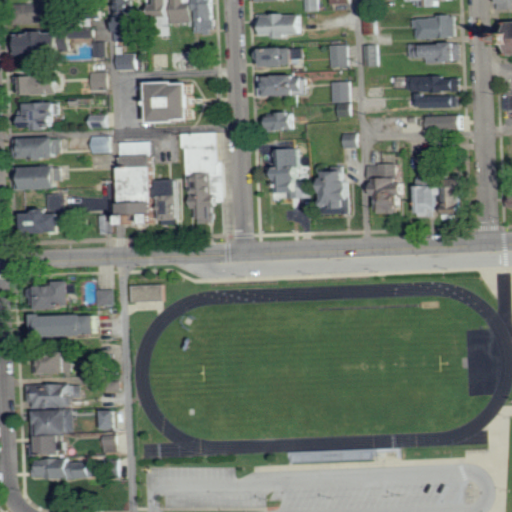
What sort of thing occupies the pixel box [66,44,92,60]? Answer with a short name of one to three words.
swimming pool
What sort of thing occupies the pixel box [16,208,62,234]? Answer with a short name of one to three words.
house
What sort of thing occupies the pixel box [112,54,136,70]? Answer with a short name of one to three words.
building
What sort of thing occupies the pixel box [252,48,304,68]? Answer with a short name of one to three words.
house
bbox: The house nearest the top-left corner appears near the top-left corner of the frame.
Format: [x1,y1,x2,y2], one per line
[12,3,40,28]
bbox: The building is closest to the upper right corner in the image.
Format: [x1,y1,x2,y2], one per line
[478,23,512,56]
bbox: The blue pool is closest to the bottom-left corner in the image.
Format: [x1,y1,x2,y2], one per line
[83,281,96,306]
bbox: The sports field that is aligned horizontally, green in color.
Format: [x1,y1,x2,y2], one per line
[150,296,492,441]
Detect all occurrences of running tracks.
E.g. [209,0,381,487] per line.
[136,274,512,458]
